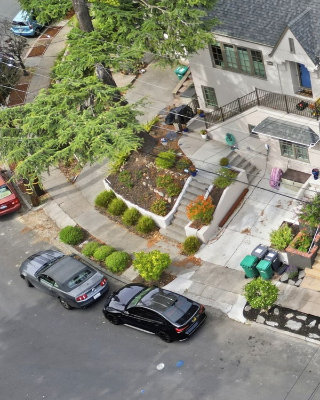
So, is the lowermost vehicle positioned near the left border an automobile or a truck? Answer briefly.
automobile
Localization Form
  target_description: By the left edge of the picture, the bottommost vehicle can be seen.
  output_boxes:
[16,249,109,310]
